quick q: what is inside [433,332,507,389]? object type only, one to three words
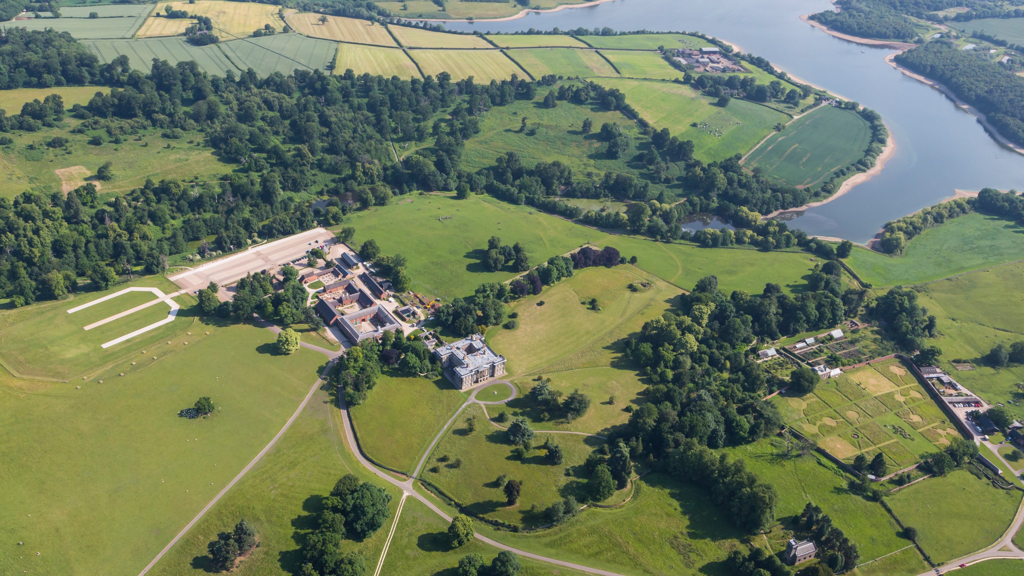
house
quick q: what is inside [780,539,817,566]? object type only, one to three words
building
